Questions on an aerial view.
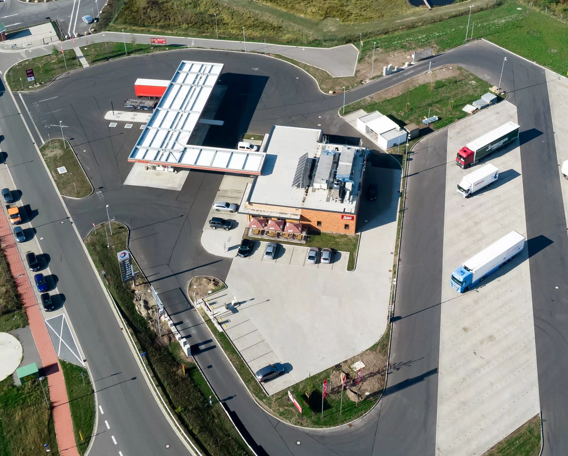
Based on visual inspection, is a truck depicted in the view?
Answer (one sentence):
Yes, a truck is visible in the scene.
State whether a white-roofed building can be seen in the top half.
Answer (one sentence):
Yes, looking in the top half, one can make out a white-roofed building.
